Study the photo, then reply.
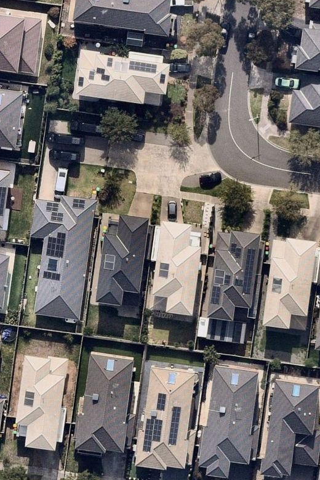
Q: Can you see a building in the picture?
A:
Yes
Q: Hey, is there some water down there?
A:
No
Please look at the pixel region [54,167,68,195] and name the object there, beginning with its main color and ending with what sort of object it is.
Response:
white vehicle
